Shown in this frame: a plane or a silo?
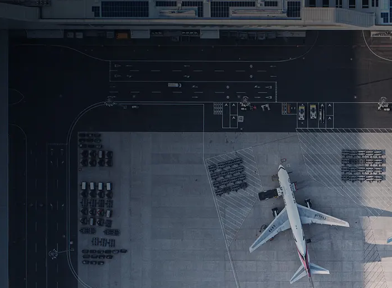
plane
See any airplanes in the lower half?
Yes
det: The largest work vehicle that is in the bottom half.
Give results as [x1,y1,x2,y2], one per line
[257,189,282,202]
